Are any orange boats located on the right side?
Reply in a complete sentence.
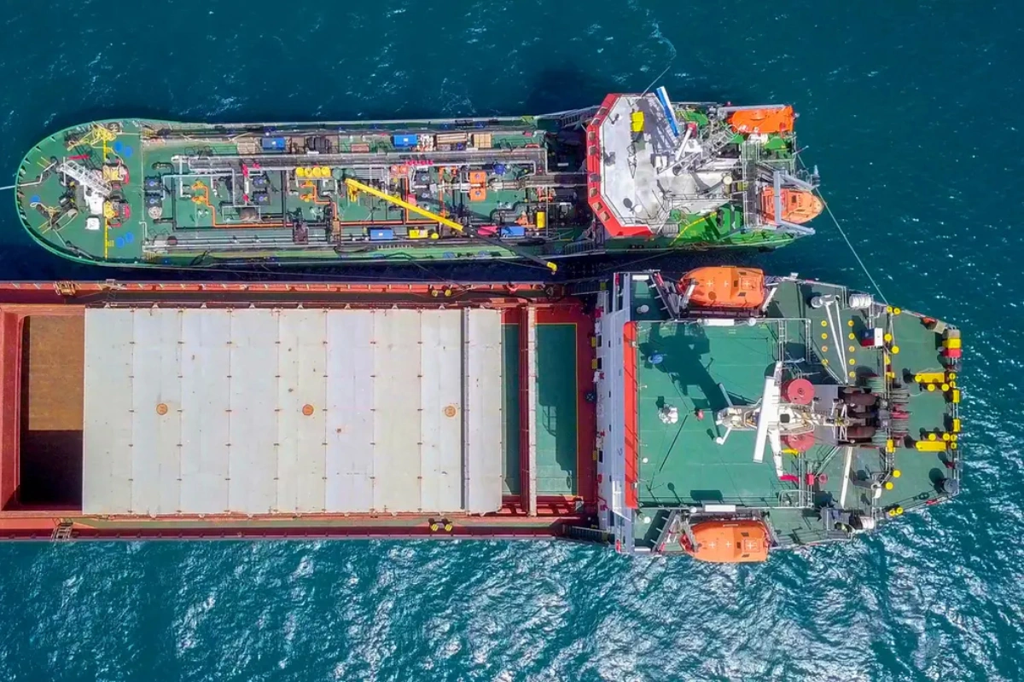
Yes, I can see an orange boat on the right side.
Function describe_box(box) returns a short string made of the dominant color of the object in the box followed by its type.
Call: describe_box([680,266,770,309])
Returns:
orange boat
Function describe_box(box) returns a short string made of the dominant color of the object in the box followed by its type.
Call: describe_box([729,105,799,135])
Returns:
orange boat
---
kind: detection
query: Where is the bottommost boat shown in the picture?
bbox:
[681,521,772,565]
